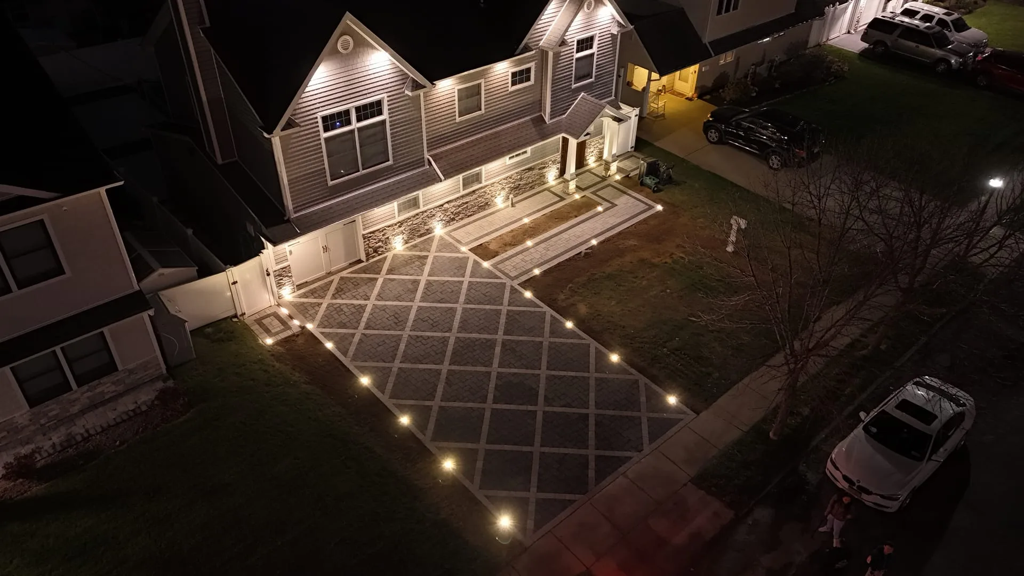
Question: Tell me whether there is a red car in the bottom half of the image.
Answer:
No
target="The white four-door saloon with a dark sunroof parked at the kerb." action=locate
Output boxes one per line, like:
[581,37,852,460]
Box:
[824,372,975,510]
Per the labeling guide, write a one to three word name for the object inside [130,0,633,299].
house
